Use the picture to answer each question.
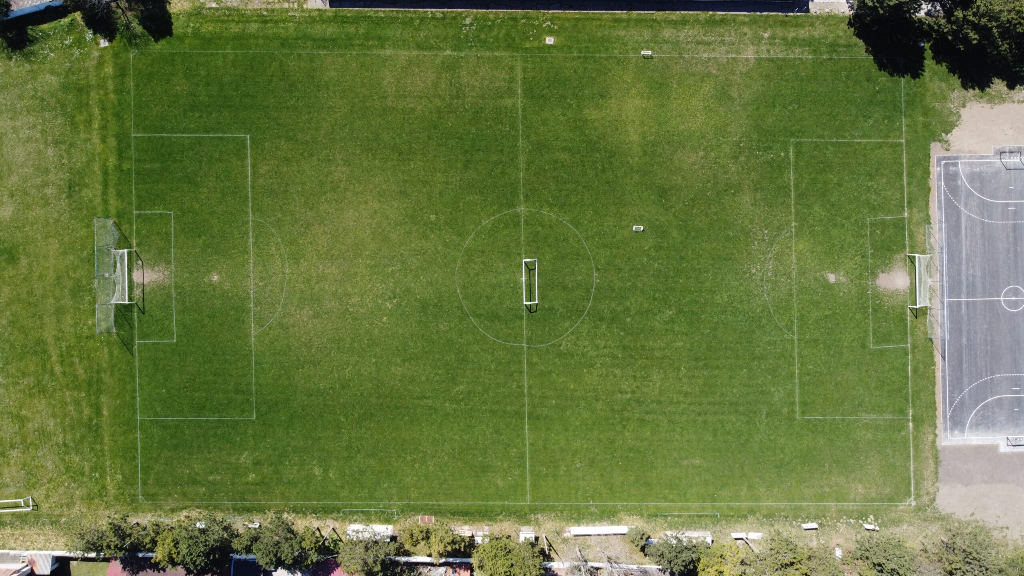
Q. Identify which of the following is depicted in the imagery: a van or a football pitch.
football pitch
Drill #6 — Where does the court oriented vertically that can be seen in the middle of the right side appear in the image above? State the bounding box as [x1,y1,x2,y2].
[936,144,1024,453]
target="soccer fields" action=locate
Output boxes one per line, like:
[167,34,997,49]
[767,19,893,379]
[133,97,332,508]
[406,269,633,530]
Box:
[131,51,912,518]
